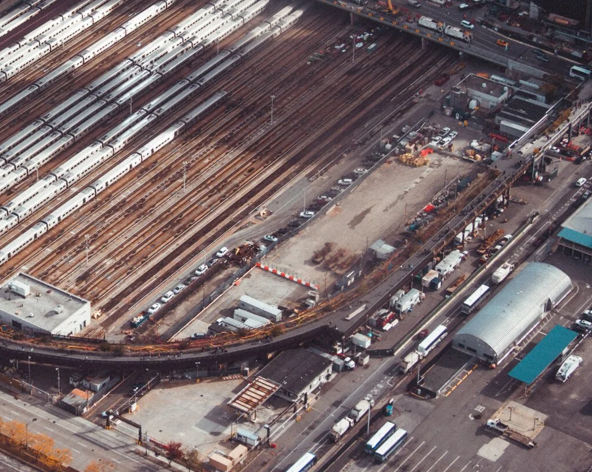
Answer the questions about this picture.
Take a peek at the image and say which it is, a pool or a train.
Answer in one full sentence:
Visible in the photo is a train.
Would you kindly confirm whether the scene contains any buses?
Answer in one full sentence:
Yes, the picture does show a bus.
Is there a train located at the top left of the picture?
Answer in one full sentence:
Yes, the scene does show a train at the top left of the picture.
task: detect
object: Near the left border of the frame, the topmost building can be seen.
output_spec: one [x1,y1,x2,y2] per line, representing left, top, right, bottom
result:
[0,273,89,333]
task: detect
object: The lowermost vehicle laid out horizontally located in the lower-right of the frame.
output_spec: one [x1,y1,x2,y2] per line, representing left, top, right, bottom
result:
[488,425,533,440]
